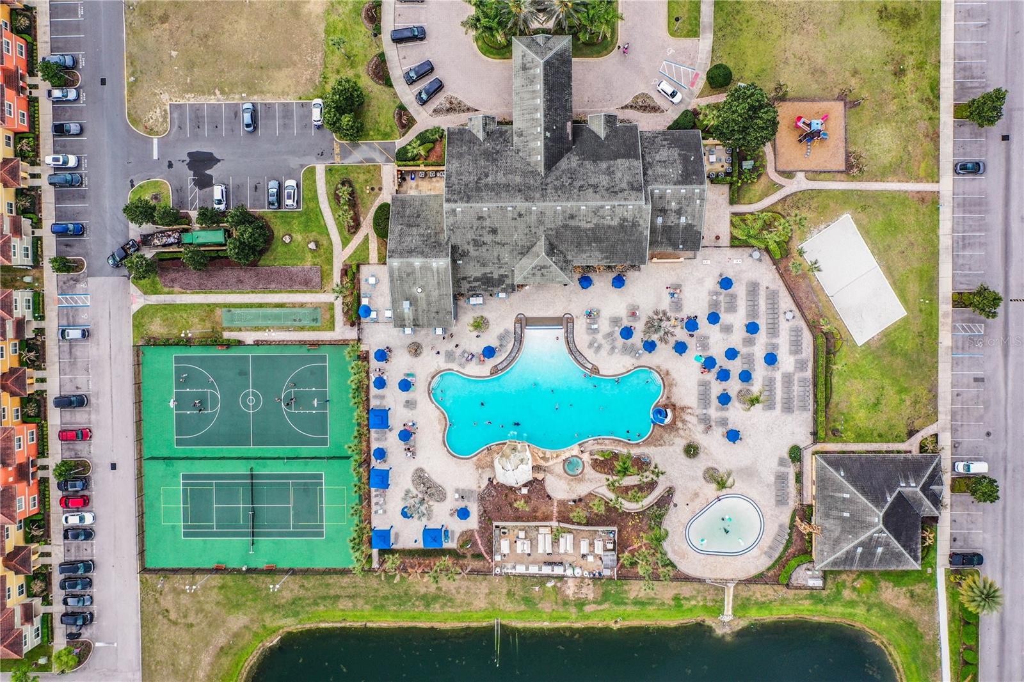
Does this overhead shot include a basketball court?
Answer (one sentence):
Yes, this view includes a basketball court.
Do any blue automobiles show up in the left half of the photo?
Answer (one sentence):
Yes, looking in the left half of the photo, one can make out a blue automobile.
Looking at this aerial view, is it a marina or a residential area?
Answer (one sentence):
This looks like a residential area.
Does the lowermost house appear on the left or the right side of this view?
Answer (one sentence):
You can find the lowermost house on the left side of the picture.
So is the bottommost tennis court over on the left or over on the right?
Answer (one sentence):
It is on the left.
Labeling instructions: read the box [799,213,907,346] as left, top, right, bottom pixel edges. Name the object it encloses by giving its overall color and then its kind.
white sports court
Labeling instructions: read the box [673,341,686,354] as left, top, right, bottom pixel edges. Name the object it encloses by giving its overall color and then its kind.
blue umbrella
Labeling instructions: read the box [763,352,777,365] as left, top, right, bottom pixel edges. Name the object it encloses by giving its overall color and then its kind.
blue umbrella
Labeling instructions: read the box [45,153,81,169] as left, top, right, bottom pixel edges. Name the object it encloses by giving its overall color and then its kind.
white car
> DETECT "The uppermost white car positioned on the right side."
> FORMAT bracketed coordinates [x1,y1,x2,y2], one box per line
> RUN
[655,79,682,105]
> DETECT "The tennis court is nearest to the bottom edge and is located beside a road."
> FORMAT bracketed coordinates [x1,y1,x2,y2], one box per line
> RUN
[144,457,355,568]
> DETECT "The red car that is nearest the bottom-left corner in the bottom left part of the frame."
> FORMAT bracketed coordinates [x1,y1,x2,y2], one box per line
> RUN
[61,495,92,510]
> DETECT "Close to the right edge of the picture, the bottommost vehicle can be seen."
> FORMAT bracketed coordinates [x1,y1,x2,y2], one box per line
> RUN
[947,552,983,569]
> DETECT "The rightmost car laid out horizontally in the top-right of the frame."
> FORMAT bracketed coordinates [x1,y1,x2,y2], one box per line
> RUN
[953,160,983,175]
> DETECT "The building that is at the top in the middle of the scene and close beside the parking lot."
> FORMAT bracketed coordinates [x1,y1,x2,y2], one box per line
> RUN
[387,30,707,327]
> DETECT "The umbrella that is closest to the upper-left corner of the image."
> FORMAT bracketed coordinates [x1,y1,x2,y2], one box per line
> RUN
[359,305,371,318]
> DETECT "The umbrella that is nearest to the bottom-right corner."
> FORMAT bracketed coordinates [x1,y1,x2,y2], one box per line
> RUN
[726,429,739,442]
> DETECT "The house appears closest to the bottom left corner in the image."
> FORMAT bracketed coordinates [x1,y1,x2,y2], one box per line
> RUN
[0,600,42,665]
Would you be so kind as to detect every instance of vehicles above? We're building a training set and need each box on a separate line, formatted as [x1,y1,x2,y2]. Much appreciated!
[404,60,436,84]
[266,180,282,210]
[65,634,80,640]
[45,153,81,169]
[390,25,426,44]
[61,495,92,510]
[52,393,90,409]
[655,79,682,105]
[947,552,983,569]
[58,559,97,576]
[47,87,81,103]
[59,326,91,342]
[64,526,97,542]
[952,460,991,476]
[953,160,983,175]
[212,183,229,212]
[51,221,87,236]
[48,172,84,188]
[415,78,445,104]
[57,477,90,493]
[310,99,325,127]
[284,179,299,210]
[62,592,95,608]
[60,610,96,627]
[53,121,85,137]
[106,238,144,268]
[63,511,97,526]
[241,103,257,133]
[59,575,95,592]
